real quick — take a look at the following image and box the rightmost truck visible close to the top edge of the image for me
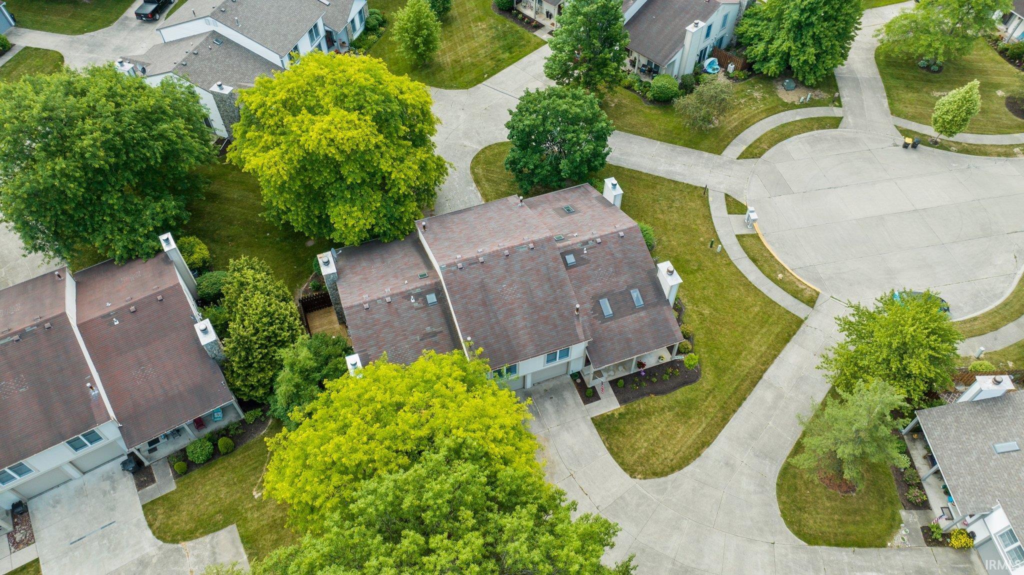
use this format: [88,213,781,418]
[133,0,174,23]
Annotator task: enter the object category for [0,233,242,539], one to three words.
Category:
house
